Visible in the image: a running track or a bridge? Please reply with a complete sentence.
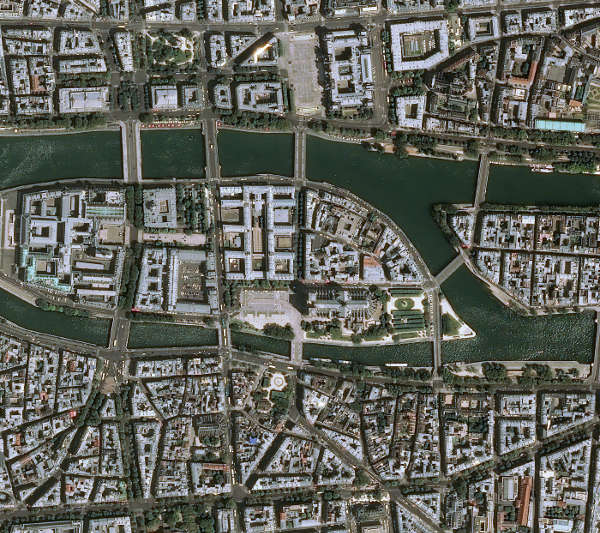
It is a bridge that can be seen here.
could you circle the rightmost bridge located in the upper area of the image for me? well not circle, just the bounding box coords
[473,151,491,211]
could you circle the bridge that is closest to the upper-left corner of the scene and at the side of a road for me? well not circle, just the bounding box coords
[122,120,144,180]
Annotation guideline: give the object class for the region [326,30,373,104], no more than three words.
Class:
building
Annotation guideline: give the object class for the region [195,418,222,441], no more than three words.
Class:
building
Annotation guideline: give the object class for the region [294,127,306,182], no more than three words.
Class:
bridge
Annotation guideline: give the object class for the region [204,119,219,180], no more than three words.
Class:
bridge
